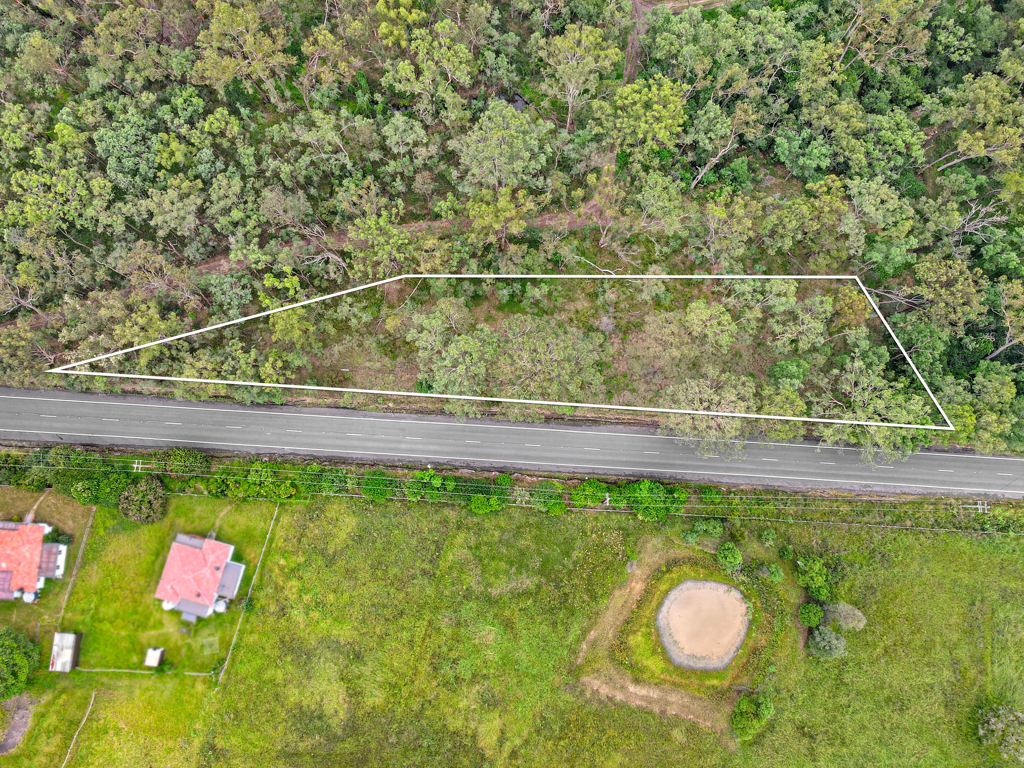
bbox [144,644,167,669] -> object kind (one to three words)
shed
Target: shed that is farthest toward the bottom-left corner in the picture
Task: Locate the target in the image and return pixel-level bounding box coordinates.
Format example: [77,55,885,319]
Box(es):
[48,627,83,675]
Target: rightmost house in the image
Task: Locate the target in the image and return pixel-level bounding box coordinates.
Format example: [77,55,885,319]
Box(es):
[157,529,246,626]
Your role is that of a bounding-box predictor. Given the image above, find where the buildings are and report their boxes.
[144,644,167,669]
[48,627,83,675]
[157,529,246,626]
[0,509,70,602]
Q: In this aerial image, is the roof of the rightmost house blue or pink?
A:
pink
